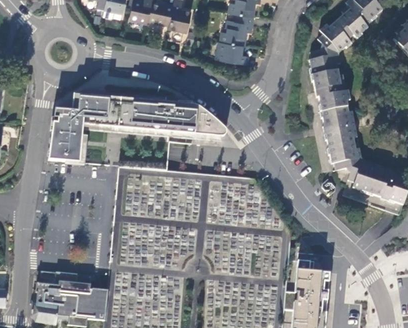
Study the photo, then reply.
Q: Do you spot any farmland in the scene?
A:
No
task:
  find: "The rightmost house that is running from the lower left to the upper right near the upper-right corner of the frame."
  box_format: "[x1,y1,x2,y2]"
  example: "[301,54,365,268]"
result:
[316,0,384,55]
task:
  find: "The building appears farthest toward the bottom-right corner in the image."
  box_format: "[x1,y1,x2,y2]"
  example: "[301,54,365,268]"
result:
[281,256,332,328]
